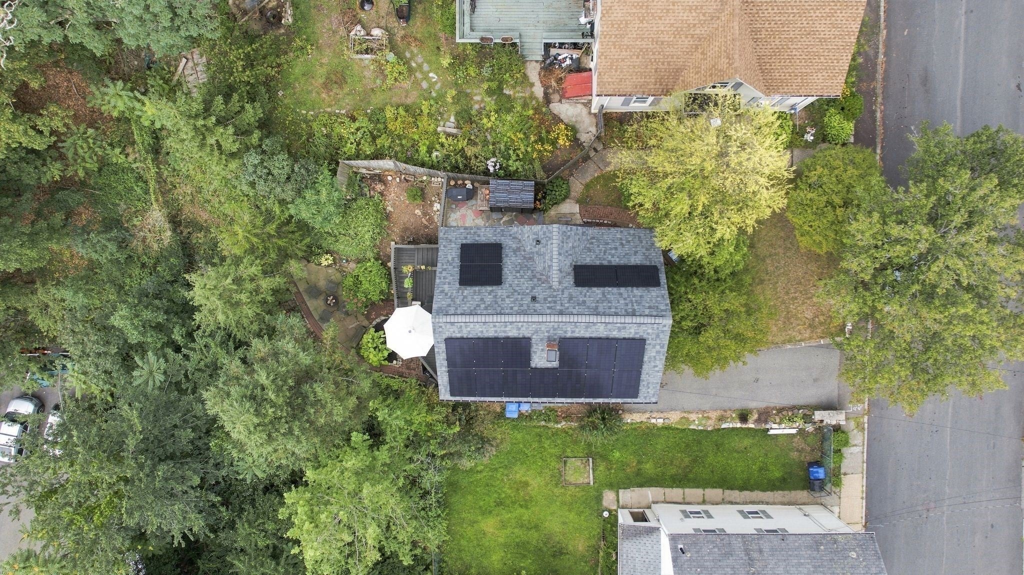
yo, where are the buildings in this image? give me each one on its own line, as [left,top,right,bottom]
[592,0,867,124]
[431,222,672,405]
[652,502,887,575]
[489,180,535,211]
